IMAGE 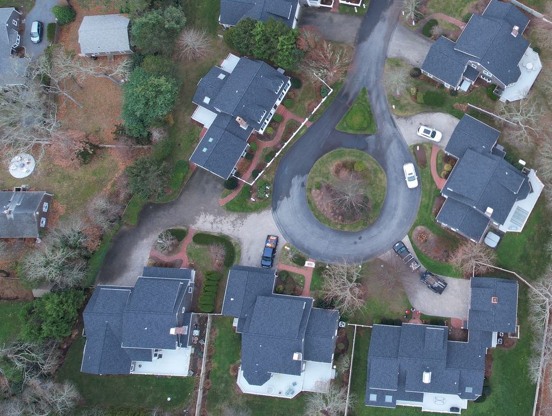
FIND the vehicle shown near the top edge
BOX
[27,19,44,45]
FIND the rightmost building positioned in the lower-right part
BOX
[366,277,518,415]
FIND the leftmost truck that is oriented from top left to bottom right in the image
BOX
[391,237,422,275]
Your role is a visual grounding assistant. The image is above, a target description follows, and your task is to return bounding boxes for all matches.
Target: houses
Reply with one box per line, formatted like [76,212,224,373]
[421,0,543,104]
[0,8,36,92]
[0,185,52,238]
[220,0,322,34]
[79,13,129,61]
[189,50,293,180]
[436,114,544,250]
[366,277,518,415]
[222,263,339,400]
[81,268,201,377]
